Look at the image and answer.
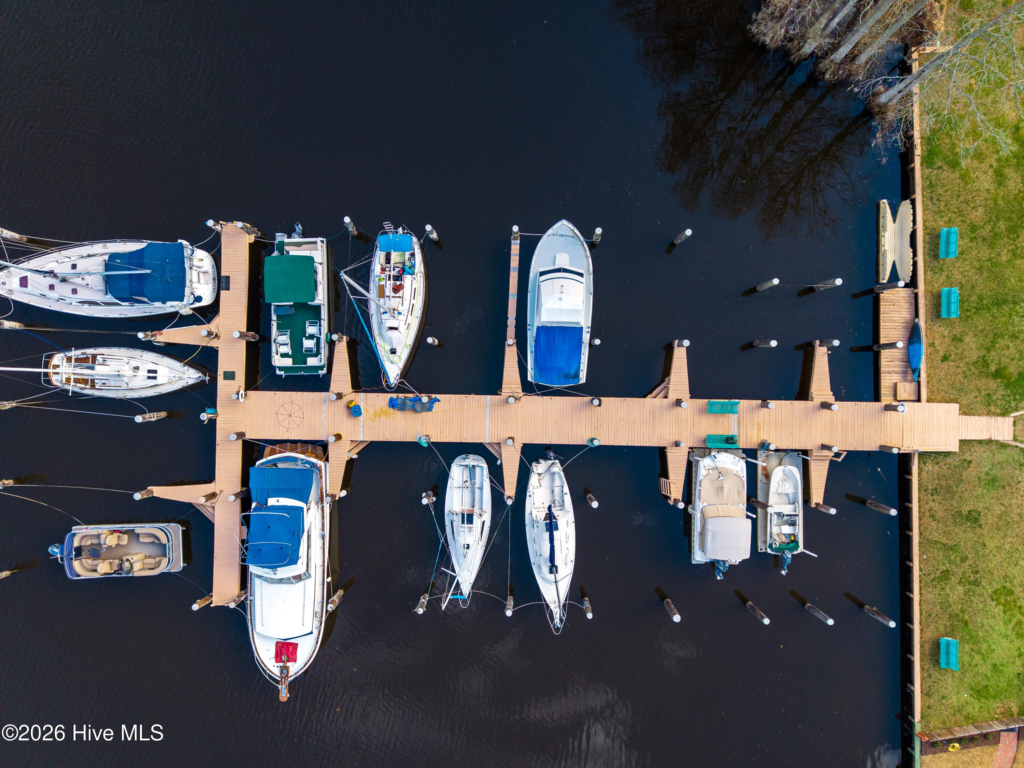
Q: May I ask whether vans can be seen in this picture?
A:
No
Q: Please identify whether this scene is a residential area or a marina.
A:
marina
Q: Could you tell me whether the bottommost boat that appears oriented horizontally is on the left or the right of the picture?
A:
left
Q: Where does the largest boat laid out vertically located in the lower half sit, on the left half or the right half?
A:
left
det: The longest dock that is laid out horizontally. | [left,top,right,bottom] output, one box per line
[244,391,959,451]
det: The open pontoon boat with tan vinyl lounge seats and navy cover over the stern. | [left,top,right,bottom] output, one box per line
[44,522,187,578]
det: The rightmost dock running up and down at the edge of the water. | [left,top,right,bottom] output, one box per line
[877,289,918,401]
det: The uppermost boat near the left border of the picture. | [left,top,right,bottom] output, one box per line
[0,230,219,318]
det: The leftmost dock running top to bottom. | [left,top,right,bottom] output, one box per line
[211,220,256,605]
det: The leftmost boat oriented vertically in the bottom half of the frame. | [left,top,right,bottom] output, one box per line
[233,443,333,701]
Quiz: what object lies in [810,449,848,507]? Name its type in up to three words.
pier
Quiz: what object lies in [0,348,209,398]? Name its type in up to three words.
boat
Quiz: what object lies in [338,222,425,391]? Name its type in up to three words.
boat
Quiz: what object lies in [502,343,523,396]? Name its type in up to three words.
pier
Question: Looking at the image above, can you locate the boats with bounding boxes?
[265,222,331,378]
[233,443,333,701]
[527,218,594,386]
[338,222,425,391]
[692,450,751,585]
[0,230,219,318]
[440,453,492,612]
[765,465,803,575]
[524,444,576,634]
[44,522,187,578]
[0,348,209,398]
